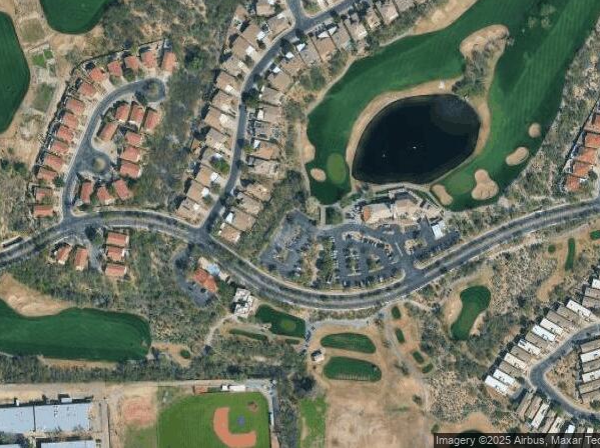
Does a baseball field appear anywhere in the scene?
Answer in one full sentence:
Yes, you can see a baseball field in this photo.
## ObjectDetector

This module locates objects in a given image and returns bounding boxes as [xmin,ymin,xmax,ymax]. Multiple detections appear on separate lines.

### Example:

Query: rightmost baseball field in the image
[158,391,272,448]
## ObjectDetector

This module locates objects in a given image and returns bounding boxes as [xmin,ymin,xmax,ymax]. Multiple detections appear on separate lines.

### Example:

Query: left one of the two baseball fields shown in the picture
[124,398,158,448]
